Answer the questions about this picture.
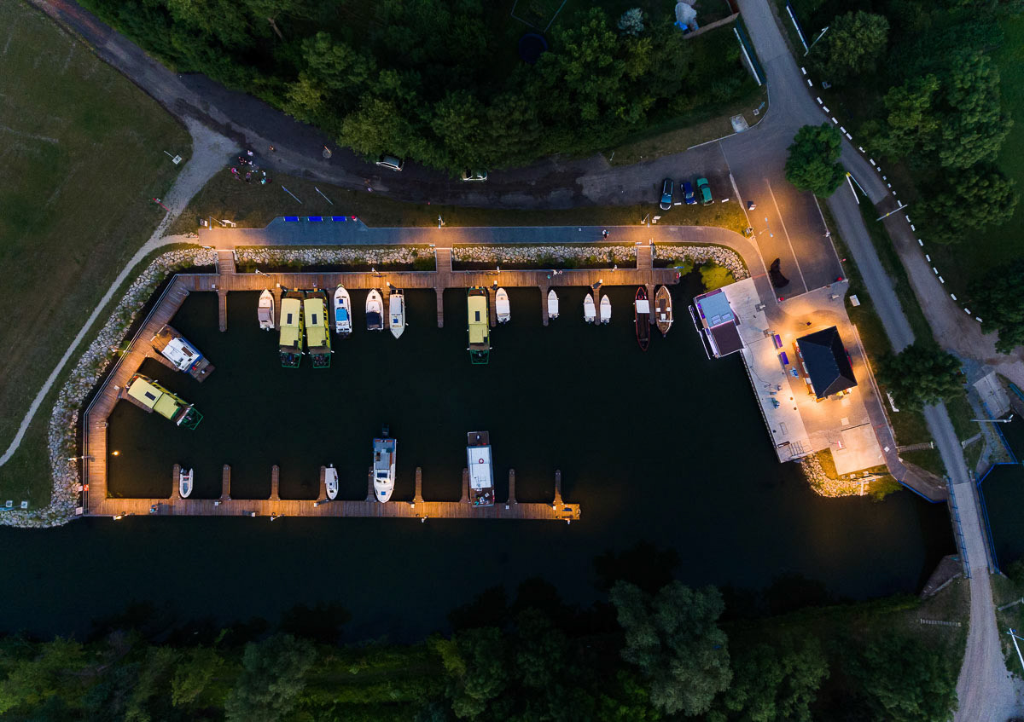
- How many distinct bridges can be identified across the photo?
1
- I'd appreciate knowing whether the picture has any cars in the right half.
Yes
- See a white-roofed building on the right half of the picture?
No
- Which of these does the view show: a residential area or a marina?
marina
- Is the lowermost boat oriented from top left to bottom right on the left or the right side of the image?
left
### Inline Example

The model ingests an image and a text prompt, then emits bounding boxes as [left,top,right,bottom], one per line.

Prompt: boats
[467,430,495,508]
[496,284,513,324]
[633,284,651,351]
[256,285,275,333]
[302,285,335,369]
[324,466,338,502]
[547,286,560,321]
[389,289,407,339]
[365,286,382,333]
[277,285,306,370]
[333,283,351,339]
[123,372,205,431]
[148,324,215,382]
[600,292,612,325]
[180,469,194,498]
[372,432,397,505]
[656,283,673,338]
[465,283,493,365]
[584,292,597,324]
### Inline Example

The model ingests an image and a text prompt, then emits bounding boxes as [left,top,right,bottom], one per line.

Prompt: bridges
[942,479,1001,578]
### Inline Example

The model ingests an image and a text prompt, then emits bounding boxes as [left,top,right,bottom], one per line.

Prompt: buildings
[692,288,745,358]
[785,325,858,399]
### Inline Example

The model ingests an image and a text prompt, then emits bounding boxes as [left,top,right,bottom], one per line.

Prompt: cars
[696,176,713,205]
[681,179,698,205]
[462,169,488,181]
[377,154,405,171]
[658,178,674,210]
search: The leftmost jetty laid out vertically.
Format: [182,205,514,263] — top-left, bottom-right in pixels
[168,464,184,499]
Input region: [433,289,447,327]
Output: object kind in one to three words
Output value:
pier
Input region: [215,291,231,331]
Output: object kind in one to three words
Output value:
pier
